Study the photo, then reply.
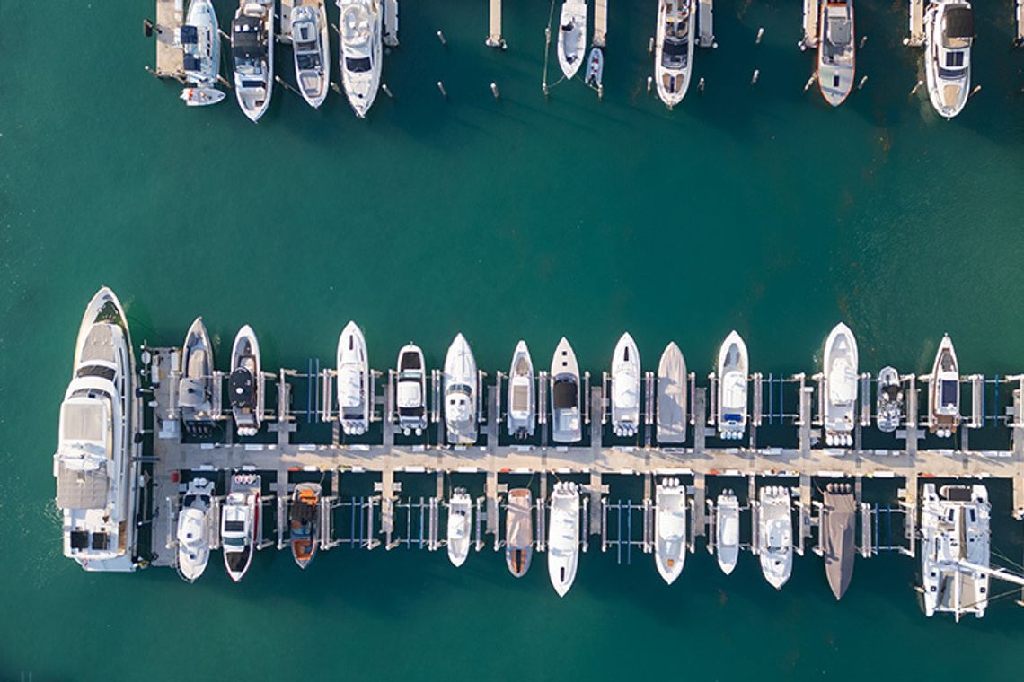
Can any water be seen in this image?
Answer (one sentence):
Yes, water can be seen from above here.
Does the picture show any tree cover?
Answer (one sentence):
No, tree cover can't be seen anywhere here.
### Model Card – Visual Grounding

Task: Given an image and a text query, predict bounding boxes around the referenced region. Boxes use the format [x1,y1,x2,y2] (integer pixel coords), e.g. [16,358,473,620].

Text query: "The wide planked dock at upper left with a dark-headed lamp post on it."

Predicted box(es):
[155,0,189,77]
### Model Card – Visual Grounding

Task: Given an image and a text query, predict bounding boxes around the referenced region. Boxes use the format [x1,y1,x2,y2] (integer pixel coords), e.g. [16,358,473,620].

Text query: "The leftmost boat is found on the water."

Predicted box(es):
[54,285,148,571]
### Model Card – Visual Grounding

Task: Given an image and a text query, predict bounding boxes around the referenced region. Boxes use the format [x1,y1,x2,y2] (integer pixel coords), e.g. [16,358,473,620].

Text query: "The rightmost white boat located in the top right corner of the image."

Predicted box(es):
[923,0,974,120]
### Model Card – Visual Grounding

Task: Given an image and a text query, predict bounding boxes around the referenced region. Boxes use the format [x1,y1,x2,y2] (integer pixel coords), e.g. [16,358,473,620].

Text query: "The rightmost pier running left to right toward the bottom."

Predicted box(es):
[151,346,1024,567]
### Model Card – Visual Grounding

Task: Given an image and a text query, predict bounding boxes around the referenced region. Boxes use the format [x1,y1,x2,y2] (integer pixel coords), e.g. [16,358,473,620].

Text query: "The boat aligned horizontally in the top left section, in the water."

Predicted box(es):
[182,88,227,106]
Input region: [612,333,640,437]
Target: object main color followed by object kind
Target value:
white boat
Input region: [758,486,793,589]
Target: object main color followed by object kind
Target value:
white boat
